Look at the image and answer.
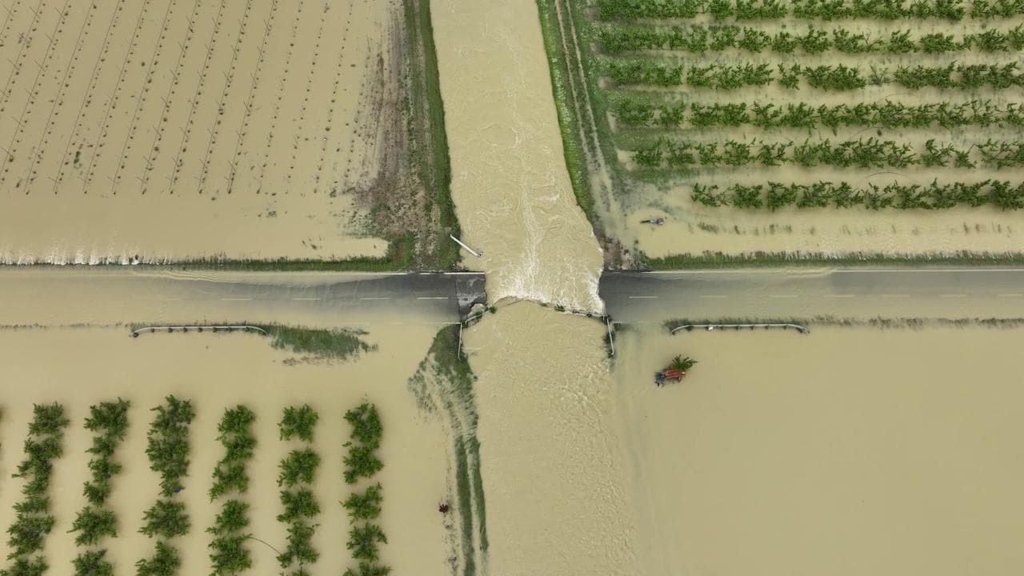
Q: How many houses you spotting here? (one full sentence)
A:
There are no houses in the image.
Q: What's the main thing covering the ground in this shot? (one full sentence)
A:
The largest share of the image is taken up by water.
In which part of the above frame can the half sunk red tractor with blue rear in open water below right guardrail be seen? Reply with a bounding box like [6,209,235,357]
[655,369,686,386]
